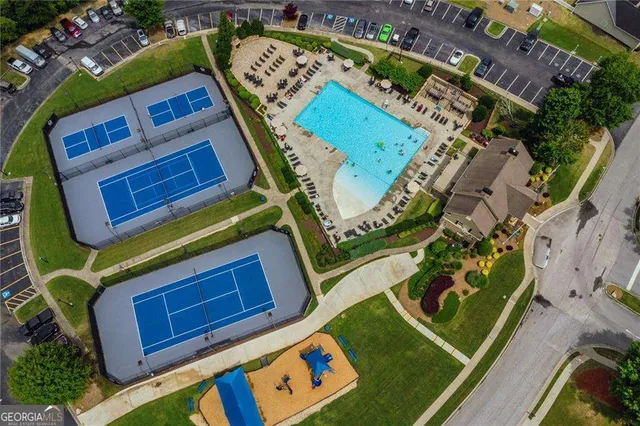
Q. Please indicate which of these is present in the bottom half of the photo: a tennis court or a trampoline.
tennis court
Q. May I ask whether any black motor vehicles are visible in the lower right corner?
No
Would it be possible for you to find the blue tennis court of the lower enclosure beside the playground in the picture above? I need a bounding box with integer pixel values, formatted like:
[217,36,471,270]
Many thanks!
[95,230,309,381]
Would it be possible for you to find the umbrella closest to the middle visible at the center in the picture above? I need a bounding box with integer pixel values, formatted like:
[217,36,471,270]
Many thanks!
[294,164,309,178]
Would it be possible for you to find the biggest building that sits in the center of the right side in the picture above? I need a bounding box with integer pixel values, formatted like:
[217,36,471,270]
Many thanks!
[442,139,539,239]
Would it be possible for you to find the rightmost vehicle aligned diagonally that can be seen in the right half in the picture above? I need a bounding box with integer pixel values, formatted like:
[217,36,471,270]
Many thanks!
[521,30,539,50]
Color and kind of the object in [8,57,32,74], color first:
white vehicle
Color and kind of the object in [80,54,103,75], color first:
white vehicle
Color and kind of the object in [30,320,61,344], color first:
black car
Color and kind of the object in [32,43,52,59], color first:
black car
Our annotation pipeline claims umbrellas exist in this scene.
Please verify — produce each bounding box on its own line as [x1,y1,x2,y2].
[379,79,393,92]
[342,59,355,71]
[294,164,309,178]
[406,181,421,194]
[295,56,309,69]
[274,126,288,138]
